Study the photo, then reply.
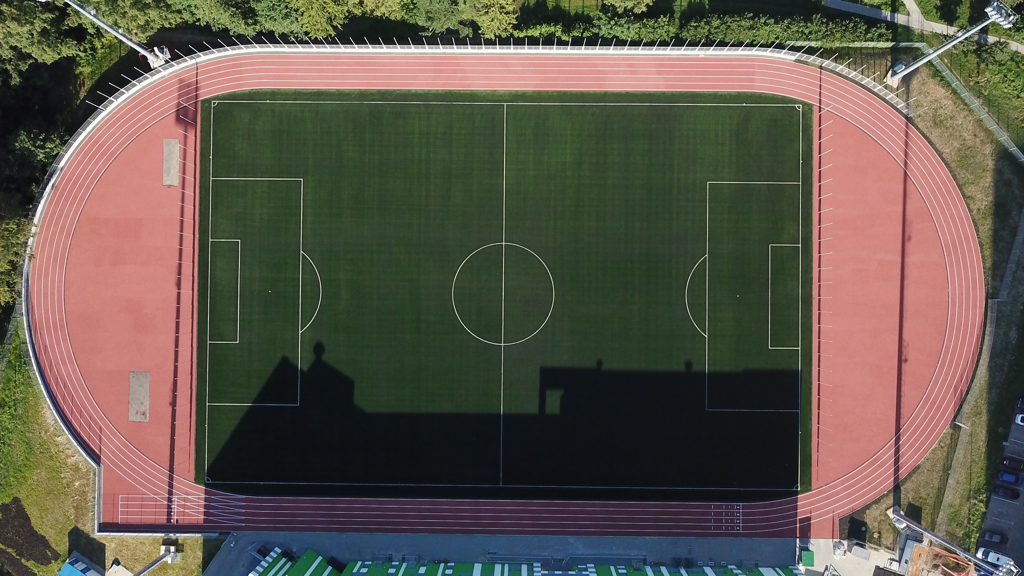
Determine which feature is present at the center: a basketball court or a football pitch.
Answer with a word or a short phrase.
football pitch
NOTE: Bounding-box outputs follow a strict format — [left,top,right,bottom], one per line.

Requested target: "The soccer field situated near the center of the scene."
[195,90,813,502]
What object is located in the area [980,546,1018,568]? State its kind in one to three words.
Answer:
vehicle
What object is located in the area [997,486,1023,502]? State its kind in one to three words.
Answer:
car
